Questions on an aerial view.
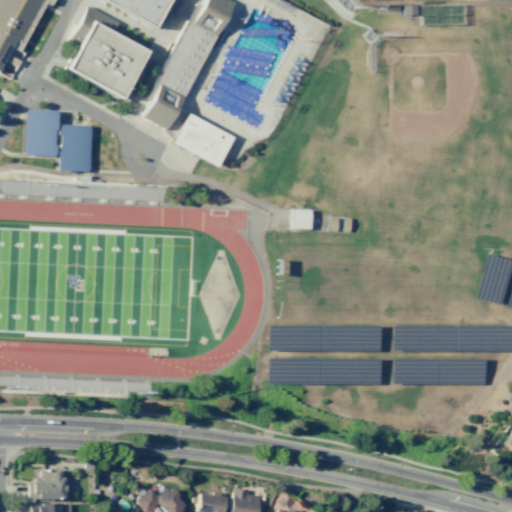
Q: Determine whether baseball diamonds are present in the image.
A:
Yes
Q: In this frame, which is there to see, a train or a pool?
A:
pool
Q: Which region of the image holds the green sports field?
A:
left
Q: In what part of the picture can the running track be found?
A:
left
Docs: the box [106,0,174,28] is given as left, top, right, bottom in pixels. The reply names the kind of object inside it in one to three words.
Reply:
building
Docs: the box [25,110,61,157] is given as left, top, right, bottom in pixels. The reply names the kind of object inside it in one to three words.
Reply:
building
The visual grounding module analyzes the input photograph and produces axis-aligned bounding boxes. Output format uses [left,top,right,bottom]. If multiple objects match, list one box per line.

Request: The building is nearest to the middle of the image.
[288,208,314,230]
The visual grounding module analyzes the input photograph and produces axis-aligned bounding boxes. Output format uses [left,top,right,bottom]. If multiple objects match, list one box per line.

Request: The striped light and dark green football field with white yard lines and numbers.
[0,221,244,358]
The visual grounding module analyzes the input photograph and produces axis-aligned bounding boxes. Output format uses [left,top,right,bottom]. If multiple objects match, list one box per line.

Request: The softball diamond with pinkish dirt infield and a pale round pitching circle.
[384,47,479,142]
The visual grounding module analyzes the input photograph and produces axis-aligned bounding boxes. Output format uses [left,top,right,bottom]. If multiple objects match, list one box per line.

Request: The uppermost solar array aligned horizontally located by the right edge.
[394,326,512,352]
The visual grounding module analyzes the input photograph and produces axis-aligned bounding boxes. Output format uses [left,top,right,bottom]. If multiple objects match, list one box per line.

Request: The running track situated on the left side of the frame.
[0,201,264,378]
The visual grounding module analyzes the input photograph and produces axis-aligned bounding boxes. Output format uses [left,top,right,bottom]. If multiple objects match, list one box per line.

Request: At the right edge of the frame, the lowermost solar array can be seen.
[394,360,488,385]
